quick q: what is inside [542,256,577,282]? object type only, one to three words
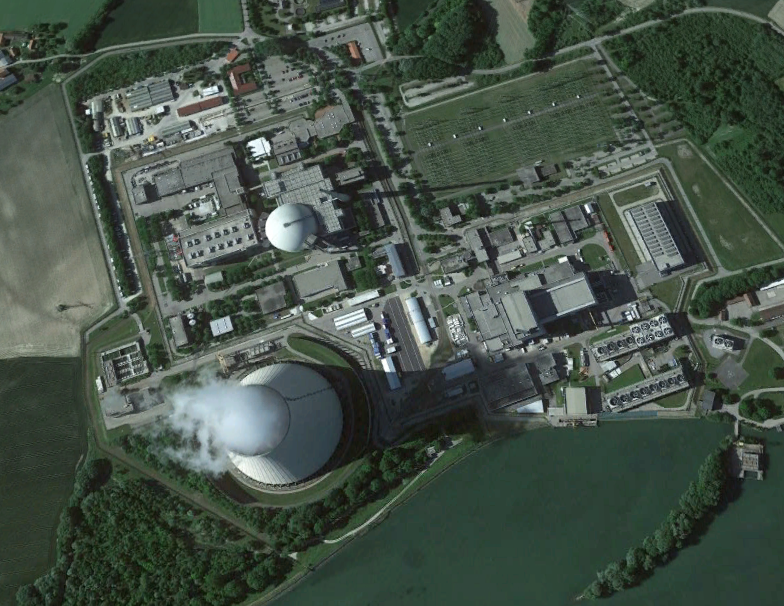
building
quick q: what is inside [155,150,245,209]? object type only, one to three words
building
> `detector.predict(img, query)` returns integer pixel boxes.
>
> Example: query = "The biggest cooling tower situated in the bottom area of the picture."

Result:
[215,360,344,487]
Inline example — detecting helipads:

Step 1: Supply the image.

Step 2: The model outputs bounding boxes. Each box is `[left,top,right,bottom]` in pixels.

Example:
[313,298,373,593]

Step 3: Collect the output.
[714,357,749,389]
